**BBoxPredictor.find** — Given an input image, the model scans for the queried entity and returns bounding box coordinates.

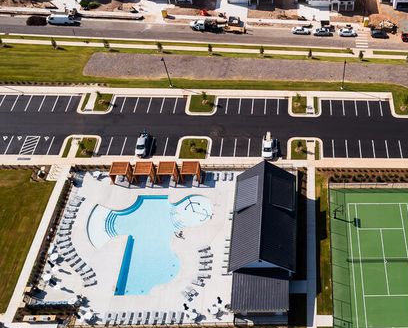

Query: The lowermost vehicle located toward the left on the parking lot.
[134,130,151,154]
